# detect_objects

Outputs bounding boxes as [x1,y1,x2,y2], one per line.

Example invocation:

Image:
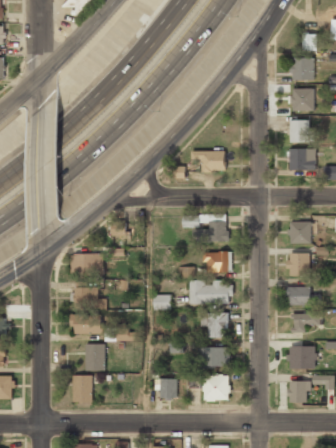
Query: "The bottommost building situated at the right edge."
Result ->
[290,376,335,404]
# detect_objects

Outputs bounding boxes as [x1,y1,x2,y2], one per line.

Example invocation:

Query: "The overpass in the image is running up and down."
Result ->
[18,70,66,256]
